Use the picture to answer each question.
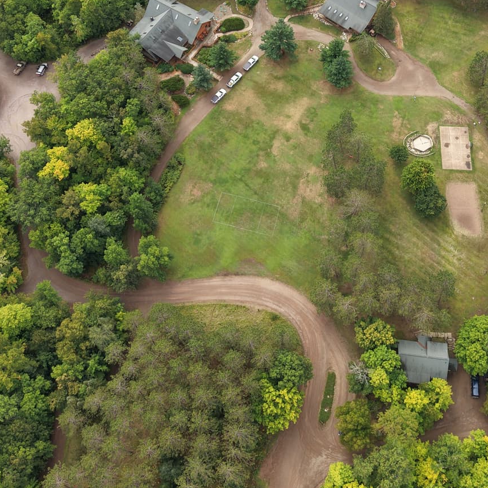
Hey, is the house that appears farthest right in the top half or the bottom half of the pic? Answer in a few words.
bottom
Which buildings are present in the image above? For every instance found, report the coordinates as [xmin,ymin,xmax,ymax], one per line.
[396,334,457,387]
[128,0,222,67]
[319,0,384,37]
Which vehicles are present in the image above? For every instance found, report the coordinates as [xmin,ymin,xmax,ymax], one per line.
[470,373,481,400]
[35,63,49,77]
[12,61,28,77]
[226,71,243,88]
[210,87,228,104]
[243,55,259,71]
